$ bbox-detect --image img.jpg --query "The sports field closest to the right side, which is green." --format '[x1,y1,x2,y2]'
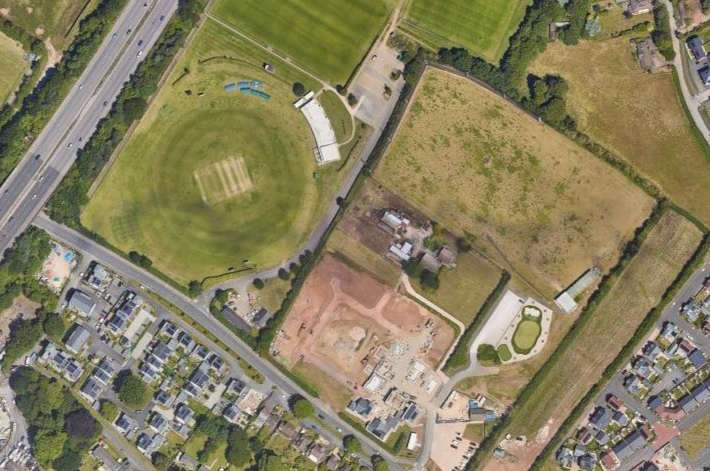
[398,0,532,66]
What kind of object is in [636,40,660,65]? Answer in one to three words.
barn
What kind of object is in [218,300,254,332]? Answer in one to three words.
building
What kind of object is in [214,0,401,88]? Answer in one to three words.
sports field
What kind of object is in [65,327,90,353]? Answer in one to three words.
house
